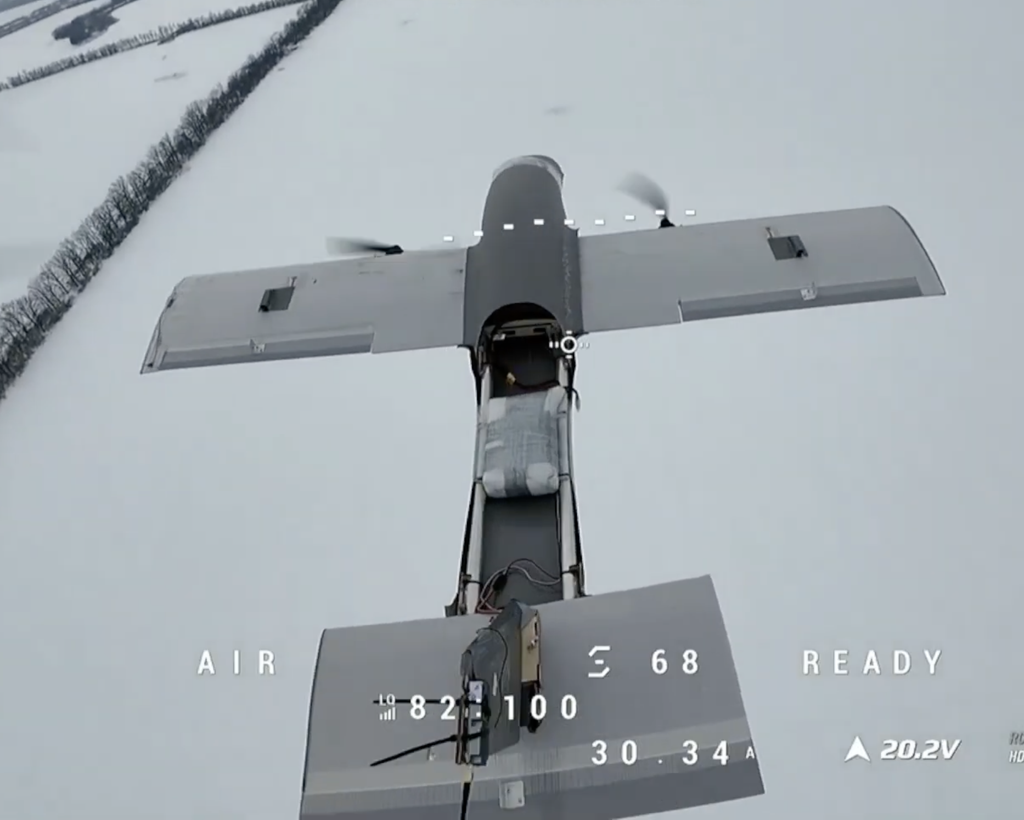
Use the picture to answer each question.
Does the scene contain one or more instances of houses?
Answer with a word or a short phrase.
No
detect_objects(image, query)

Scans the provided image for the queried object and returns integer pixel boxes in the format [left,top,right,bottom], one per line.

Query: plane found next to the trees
[140,152,948,820]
